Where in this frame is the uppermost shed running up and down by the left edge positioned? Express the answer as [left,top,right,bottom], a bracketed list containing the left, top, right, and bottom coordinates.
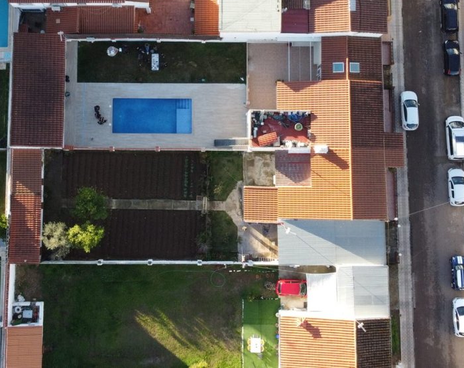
[9,32,68,147]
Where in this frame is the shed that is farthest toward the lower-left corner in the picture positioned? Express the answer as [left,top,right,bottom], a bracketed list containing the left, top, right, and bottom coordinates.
[5,323,46,368]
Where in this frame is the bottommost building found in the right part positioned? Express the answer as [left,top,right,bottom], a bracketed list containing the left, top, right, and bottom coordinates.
[272,300,393,368]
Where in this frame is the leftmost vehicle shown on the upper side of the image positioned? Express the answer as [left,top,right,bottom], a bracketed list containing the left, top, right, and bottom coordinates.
[399,90,421,132]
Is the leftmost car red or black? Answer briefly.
red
